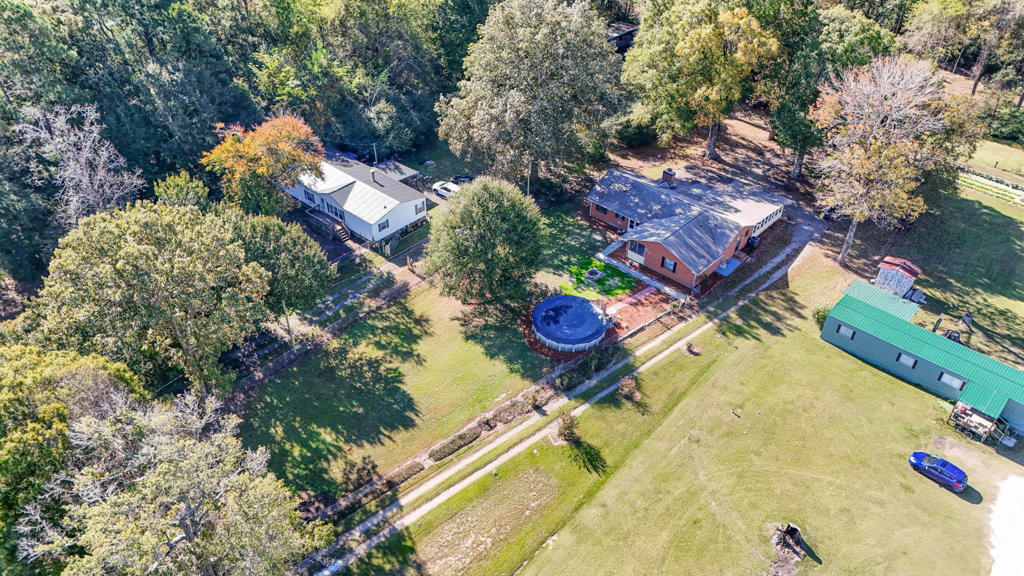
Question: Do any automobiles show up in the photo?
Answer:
Yes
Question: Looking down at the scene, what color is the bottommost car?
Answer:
blue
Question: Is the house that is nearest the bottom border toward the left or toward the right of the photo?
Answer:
right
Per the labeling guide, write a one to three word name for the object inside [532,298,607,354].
swimming pool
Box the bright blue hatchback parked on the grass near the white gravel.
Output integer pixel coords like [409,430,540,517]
[908,448,972,490]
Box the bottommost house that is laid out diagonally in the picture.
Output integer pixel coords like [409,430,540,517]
[821,281,1024,450]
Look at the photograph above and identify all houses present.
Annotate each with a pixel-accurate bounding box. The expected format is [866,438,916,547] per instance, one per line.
[265,151,426,244]
[580,166,792,290]
[821,281,1024,450]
